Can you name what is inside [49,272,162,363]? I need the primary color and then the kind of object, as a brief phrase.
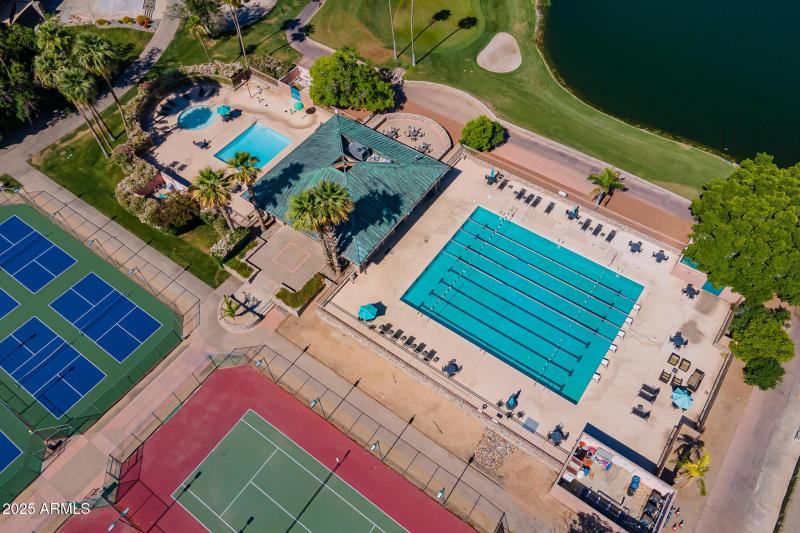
blue sports court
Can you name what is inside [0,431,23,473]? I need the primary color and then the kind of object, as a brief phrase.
blue sports court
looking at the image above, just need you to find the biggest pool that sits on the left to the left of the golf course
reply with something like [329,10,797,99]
[211,120,295,169]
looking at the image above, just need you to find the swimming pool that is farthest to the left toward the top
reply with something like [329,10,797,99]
[175,106,217,130]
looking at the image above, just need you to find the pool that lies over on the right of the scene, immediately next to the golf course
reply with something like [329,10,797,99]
[398,205,647,407]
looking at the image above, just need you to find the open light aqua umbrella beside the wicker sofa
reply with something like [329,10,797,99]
[672,385,698,409]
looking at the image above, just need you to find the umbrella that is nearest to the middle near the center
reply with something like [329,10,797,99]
[359,299,382,320]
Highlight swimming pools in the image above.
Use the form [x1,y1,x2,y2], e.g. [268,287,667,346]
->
[211,120,295,169]
[398,205,647,407]
[175,106,217,130]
